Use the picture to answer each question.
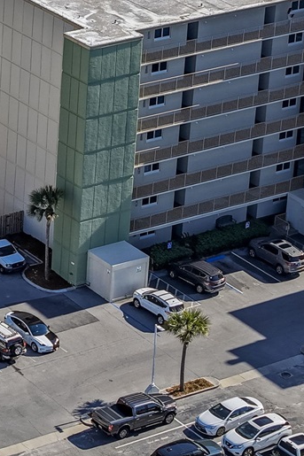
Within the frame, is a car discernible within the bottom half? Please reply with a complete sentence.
Yes, looking within the bottom half, one can make out a car.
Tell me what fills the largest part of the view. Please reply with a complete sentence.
What you mostly see from above here is buildings.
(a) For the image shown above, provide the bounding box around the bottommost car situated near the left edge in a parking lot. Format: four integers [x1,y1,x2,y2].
[2,307,56,349]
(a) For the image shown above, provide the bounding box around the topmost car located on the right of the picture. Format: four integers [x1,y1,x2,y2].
[239,235,304,274]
